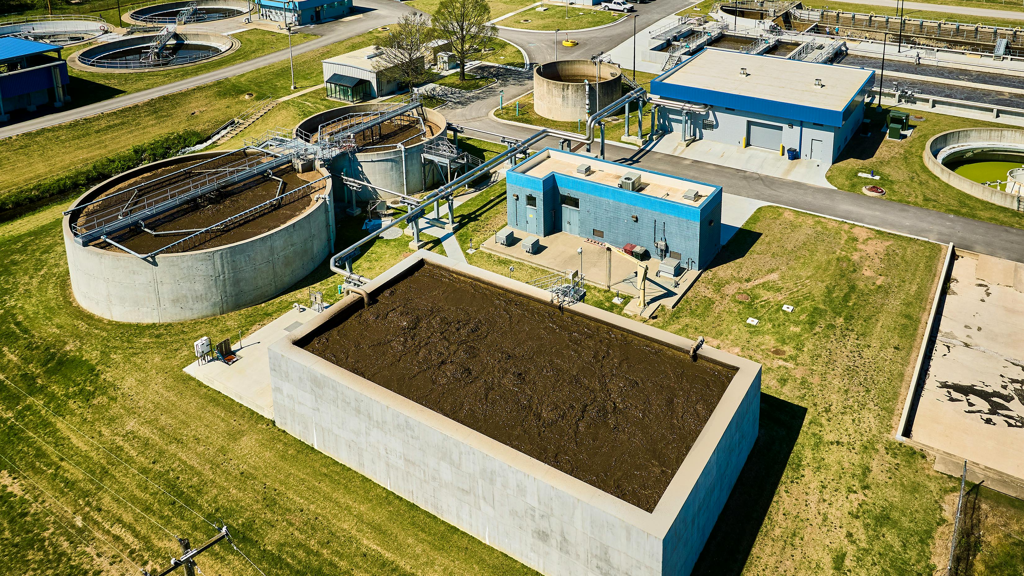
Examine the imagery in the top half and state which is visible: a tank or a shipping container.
tank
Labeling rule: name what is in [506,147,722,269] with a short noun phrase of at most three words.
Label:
building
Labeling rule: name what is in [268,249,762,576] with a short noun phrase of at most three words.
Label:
storage tank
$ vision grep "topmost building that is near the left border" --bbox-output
[0,37,64,120]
